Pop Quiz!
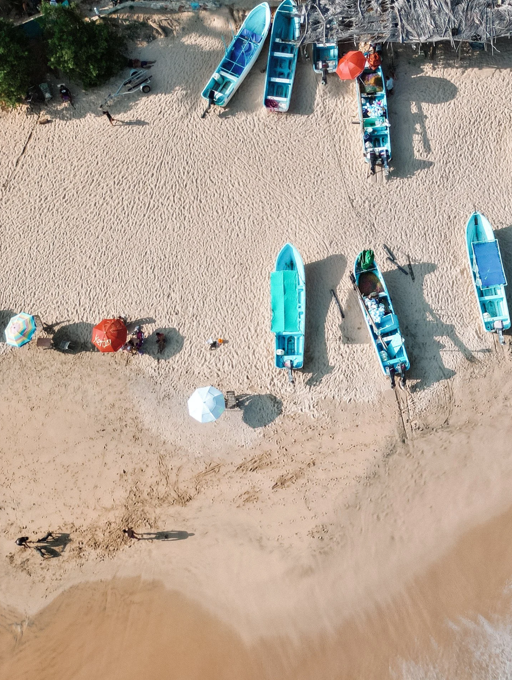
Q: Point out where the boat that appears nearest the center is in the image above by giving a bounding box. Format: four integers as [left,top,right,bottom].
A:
[271,243,305,393]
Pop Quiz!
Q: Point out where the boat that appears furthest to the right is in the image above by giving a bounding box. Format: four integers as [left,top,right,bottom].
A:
[468,212,512,354]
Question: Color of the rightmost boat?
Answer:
blue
